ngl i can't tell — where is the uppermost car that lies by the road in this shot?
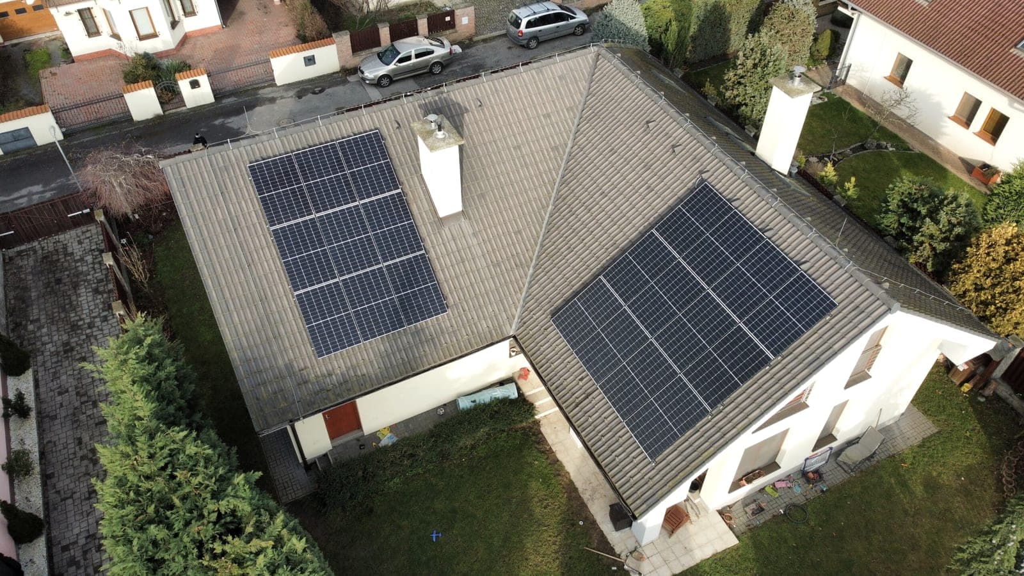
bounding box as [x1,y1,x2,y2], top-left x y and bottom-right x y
[503,0,594,48]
